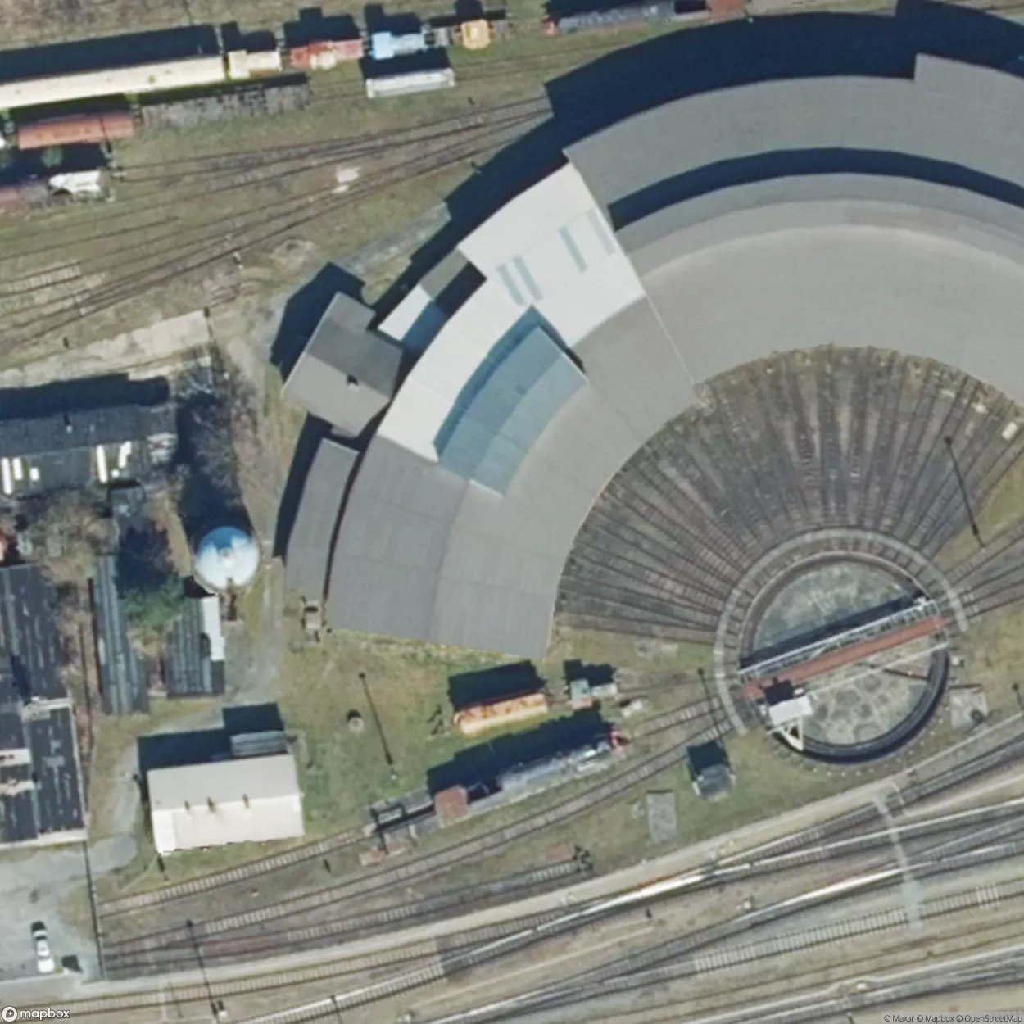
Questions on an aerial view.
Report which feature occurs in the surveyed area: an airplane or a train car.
train car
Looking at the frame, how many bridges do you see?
1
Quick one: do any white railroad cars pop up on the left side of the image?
Yes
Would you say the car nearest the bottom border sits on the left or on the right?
left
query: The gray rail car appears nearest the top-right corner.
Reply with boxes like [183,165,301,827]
[544,0,685,37]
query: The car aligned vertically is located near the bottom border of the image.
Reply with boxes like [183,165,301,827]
[33,930,53,974]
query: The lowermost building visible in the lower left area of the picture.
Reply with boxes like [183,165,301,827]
[147,732,303,854]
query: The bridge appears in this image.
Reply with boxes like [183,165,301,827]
[738,597,951,751]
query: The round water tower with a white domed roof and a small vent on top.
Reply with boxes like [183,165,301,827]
[195,526,258,617]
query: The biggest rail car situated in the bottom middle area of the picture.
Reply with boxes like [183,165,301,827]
[479,727,633,801]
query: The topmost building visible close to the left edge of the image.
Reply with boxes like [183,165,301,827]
[0,404,178,498]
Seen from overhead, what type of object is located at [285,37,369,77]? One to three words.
rail car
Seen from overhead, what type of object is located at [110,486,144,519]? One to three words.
shed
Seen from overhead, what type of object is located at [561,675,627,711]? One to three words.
rail car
